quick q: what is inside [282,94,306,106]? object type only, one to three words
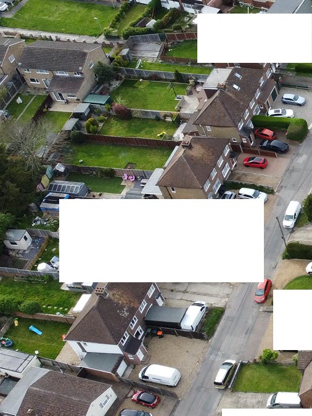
vehicle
